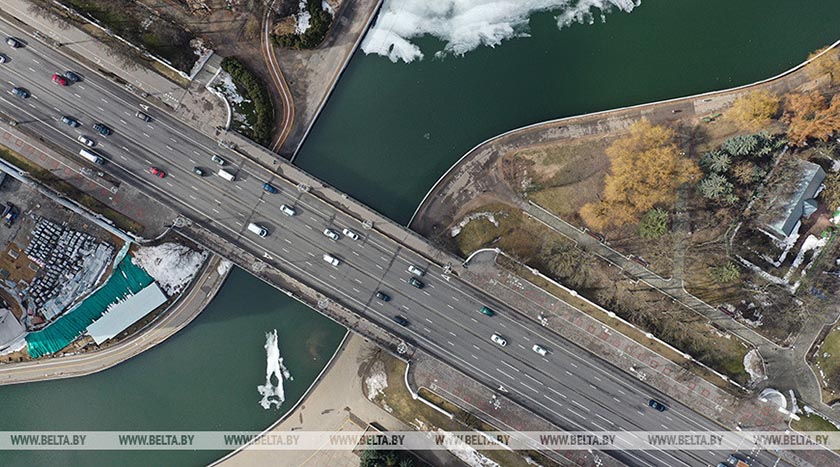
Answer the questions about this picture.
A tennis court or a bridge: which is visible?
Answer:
bridge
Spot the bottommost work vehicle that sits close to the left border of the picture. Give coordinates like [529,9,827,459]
[4,202,22,221]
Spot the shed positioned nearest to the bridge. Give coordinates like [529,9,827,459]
[86,282,170,346]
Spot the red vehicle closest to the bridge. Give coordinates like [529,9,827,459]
[150,166,167,178]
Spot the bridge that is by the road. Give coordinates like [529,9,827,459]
[171,126,467,364]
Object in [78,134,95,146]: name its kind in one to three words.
vehicle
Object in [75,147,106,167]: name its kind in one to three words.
vehicle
